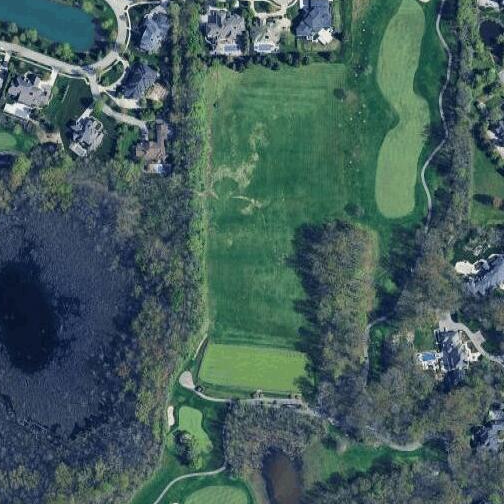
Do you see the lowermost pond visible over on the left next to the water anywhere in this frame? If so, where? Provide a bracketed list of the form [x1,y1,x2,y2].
[0,259,61,376]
